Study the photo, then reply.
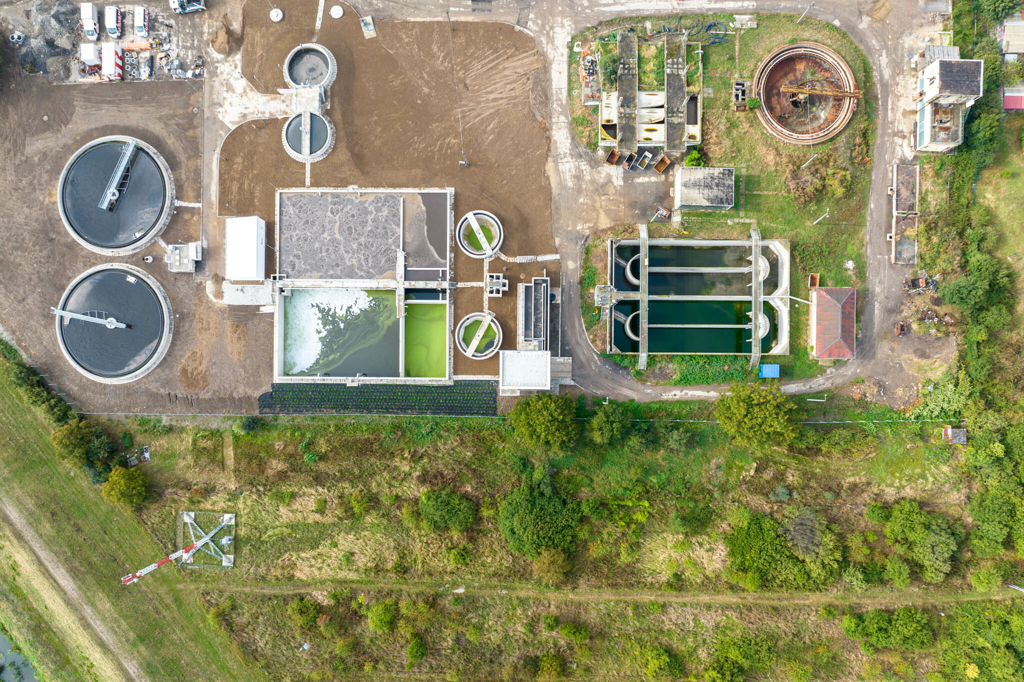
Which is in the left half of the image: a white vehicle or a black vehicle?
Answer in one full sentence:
Looking in the left half of the image, you will find a white vehicle.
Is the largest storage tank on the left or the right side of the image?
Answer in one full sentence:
The largest storage tank is on the right side of the image.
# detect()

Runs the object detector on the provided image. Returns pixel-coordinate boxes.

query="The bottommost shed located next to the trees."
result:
[938,428,967,444]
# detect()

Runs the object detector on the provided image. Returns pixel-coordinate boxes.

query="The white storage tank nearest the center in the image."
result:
[455,308,502,360]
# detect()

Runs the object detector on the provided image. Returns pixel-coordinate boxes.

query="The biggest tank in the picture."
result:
[595,224,789,369]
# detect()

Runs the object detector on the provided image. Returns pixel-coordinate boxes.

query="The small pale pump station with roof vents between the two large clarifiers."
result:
[165,242,204,273]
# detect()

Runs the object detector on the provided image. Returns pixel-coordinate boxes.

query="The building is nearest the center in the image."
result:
[500,351,550,395]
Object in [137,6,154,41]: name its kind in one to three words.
vehicle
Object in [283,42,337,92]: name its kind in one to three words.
storage tank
